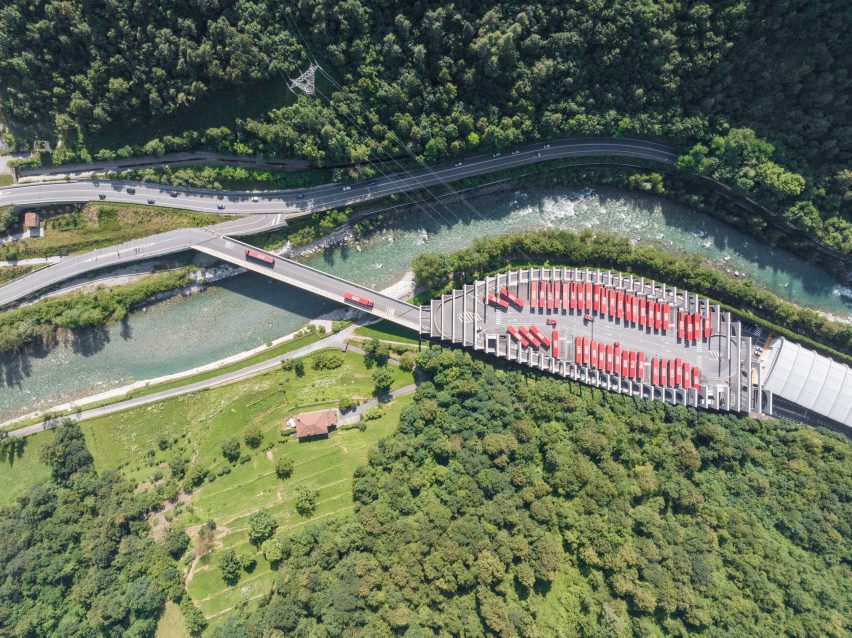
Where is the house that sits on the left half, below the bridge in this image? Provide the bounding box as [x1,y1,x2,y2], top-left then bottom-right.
[295,408,338,438]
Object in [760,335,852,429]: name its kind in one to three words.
building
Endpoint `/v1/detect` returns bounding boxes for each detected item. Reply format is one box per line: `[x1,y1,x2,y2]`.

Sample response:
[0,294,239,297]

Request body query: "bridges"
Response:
[190,227,419,330]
